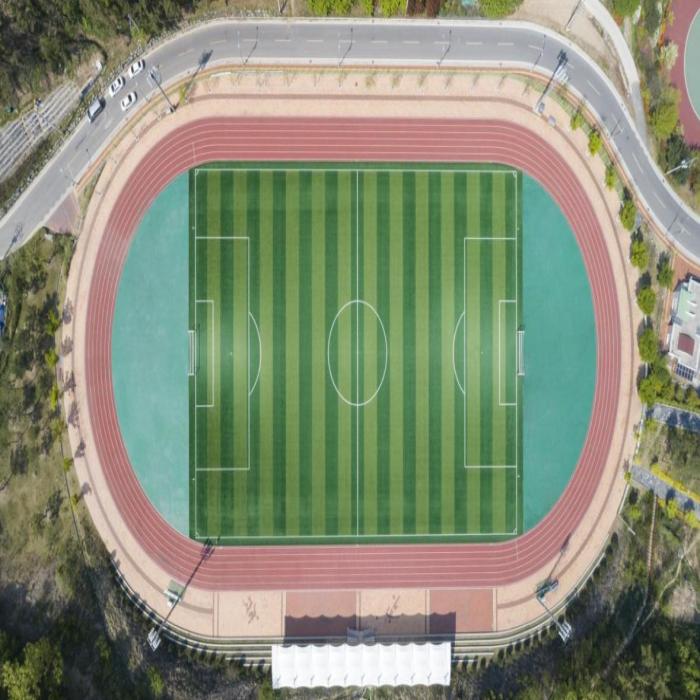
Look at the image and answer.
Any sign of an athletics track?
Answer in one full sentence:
Yes, looking at the shot, I can spot an athletics track.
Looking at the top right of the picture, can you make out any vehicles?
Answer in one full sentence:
No, I see no vehicle at the top right of the picture.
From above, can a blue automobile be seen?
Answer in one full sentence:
No, there is no blue automobile in the image.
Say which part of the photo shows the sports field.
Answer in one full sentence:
Look in the center portion of the view to spot the sports field.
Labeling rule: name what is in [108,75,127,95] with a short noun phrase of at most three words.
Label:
car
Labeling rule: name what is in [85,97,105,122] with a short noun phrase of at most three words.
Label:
car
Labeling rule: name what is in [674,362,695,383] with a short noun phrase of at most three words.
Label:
solar array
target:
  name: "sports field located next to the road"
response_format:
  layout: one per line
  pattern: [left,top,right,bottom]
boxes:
[189,165,523,543]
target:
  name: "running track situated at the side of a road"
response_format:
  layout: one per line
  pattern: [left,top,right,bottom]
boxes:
[86,118,621,589]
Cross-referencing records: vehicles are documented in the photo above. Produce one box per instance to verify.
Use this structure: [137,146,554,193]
[119,91,138,110]
[108,75,127,95]
[128,59,147,78]
[85,97,105,122]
